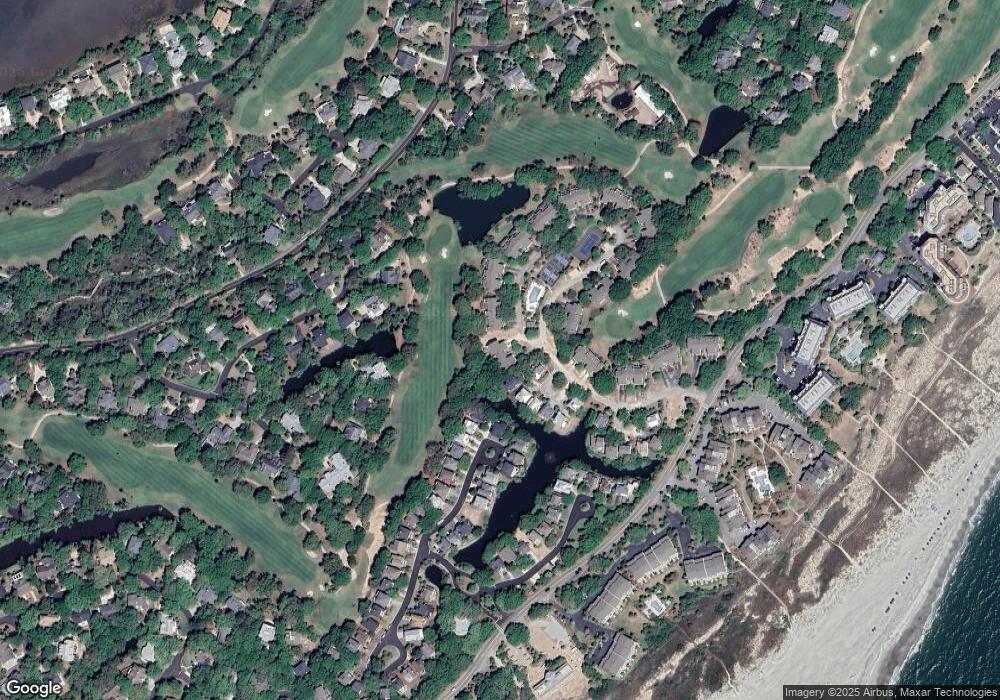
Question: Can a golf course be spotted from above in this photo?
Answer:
Yes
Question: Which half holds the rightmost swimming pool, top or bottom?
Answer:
top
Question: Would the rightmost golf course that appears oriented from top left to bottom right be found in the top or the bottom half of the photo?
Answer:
top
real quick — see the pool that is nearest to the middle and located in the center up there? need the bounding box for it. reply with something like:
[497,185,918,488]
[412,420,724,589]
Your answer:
[527,282,545,311]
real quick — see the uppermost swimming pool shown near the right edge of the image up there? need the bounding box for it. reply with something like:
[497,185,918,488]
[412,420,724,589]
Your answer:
[959,226,979,246]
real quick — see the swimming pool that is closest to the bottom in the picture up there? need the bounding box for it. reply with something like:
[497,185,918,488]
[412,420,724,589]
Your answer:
[644,594,667,618]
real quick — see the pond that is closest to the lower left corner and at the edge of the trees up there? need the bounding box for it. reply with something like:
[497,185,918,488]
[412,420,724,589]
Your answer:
[0,505,174,556]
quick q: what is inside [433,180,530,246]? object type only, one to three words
pond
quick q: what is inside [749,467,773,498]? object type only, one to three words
swimming pool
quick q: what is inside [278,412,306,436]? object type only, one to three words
house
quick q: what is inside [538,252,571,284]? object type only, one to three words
sports court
